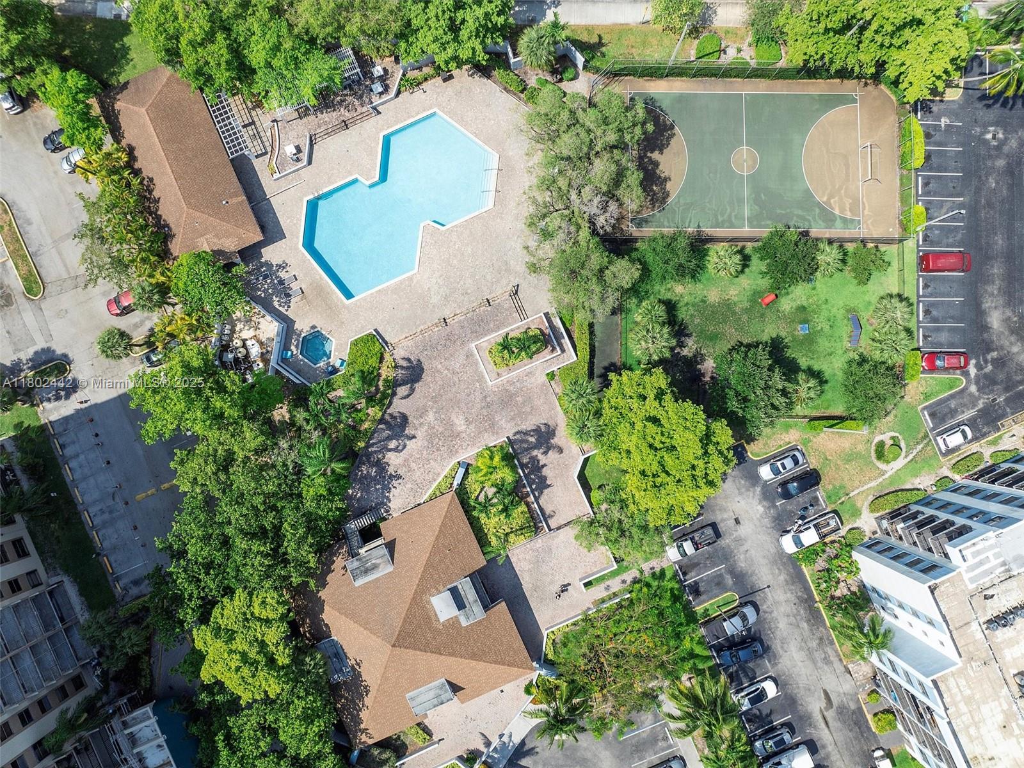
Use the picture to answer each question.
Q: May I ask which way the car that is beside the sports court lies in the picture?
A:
from side to side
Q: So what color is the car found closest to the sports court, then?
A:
red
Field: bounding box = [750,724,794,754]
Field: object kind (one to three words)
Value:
car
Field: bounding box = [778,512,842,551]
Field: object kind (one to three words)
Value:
truck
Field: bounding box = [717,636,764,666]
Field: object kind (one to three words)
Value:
car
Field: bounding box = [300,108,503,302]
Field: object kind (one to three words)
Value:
swimming pool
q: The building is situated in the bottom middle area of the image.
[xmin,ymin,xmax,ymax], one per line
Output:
[279,460,559,767]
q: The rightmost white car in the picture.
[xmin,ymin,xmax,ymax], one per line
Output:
[932,425,972,452]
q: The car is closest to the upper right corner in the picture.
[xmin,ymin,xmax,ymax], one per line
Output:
[916,251,970,273]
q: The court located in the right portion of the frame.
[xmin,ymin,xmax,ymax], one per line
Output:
[592,76,899,237]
